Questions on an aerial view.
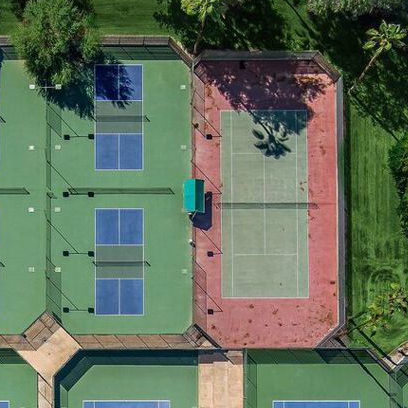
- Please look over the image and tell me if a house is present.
No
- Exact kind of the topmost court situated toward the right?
tennis court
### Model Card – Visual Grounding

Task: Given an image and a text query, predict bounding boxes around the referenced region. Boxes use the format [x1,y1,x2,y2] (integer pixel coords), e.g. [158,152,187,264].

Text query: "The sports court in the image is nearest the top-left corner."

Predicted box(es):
[92,64,146,170]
